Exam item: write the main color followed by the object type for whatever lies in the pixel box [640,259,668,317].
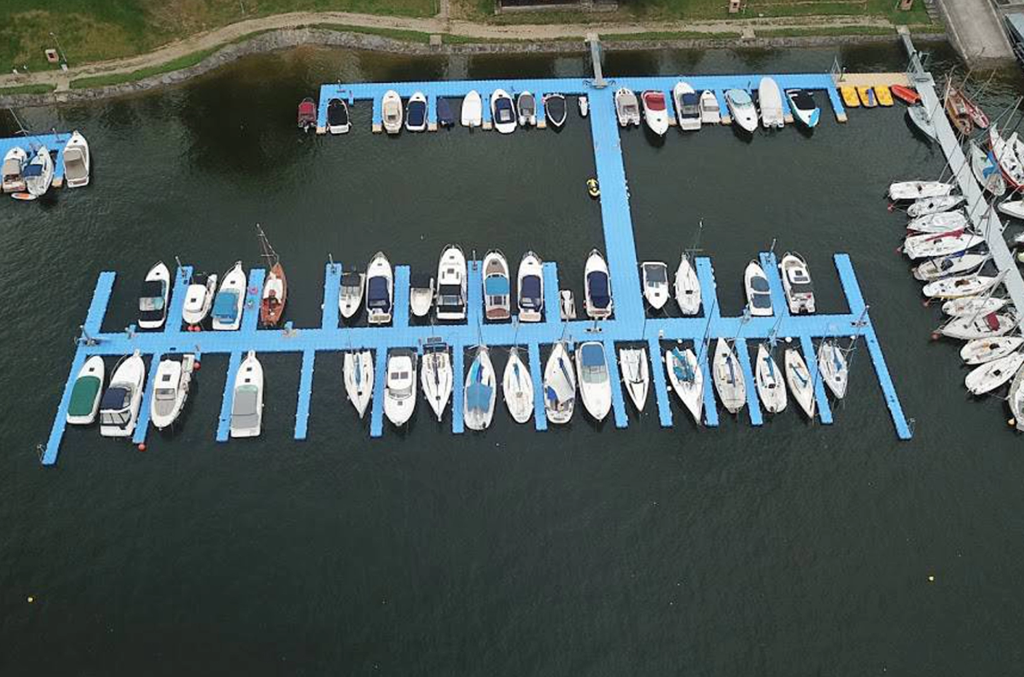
white boat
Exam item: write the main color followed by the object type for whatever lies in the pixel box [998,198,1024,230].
white boat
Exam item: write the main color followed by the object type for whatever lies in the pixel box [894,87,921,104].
red boat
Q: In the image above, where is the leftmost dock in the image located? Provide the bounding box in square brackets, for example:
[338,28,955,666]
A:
[0,133,72,189]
